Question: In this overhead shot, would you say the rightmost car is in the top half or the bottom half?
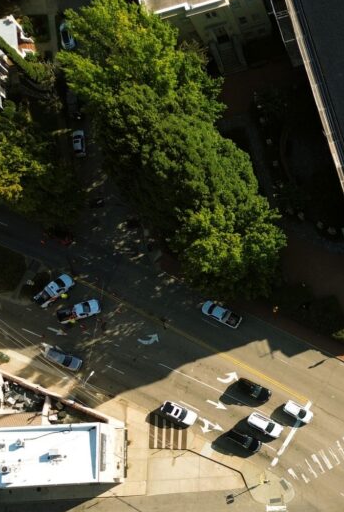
bottom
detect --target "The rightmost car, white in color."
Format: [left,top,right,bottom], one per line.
[280,398,316,426]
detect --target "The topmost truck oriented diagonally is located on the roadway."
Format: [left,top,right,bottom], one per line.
[29,272,79,311]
